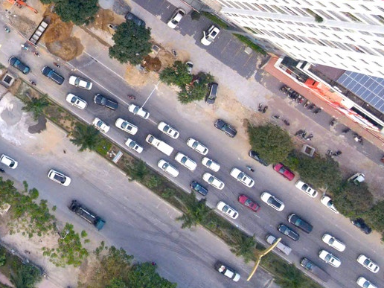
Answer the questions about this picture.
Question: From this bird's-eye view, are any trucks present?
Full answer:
Yes, there is a truck in the image.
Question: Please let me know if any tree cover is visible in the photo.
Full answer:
Yes, tree cover can be seen from above here.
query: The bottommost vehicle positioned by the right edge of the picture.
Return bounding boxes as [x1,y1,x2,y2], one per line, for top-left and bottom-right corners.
[356,276,378,288]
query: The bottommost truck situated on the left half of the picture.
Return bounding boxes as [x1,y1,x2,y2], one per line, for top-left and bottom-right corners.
[66,198,109,235]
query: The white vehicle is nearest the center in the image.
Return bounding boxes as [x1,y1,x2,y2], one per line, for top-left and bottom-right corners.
[185,136,208,155]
